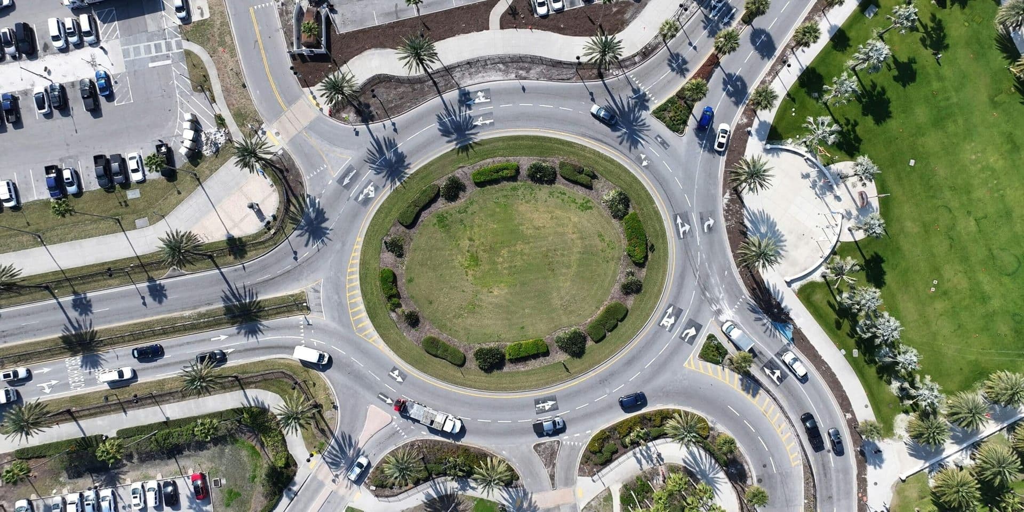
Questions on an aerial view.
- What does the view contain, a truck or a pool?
truck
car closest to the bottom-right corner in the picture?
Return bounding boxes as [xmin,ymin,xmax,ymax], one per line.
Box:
[826,425,844,456]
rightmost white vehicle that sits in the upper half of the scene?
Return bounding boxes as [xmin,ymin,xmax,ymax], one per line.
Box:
[713,122,730,153]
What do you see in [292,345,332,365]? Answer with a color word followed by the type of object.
white vehicle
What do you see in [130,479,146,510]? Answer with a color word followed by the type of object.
white car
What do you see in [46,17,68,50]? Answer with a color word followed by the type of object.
white car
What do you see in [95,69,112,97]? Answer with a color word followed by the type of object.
blue car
